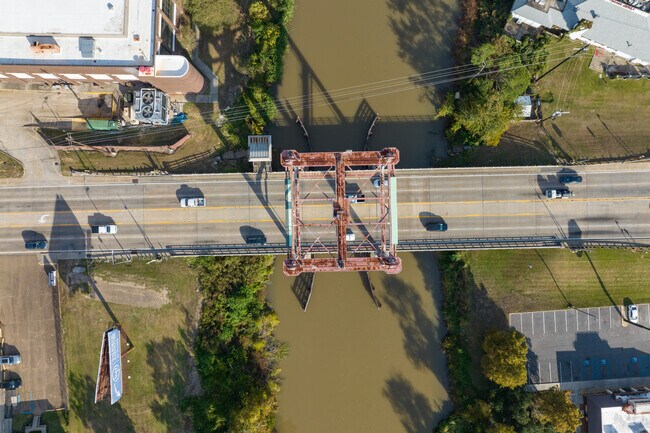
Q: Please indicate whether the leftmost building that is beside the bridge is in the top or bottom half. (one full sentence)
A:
It is in the top half that the leftmost building that is beside the bridge appears.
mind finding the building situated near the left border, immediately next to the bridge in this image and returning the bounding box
[0,0,204,92]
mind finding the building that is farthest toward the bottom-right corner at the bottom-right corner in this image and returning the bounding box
[584,379,650,433]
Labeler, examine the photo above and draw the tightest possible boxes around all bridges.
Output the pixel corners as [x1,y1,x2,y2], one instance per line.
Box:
[161,147,560,277]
